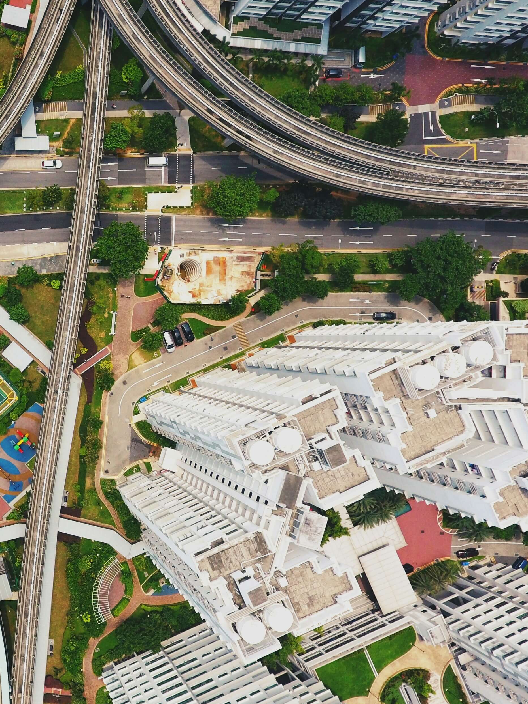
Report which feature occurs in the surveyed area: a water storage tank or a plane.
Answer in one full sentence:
Looking from above, you can make out a water storage tank.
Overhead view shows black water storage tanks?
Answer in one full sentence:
No, there is no black water storage tank in the image.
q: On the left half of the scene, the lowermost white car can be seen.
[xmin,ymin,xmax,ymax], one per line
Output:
[163,330,176,351]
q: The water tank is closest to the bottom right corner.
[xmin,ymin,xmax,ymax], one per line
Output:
[252,592,293,632]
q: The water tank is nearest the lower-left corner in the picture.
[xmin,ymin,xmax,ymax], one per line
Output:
[225,609,266,644]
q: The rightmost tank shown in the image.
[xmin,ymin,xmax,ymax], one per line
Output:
[444,338,494,367]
